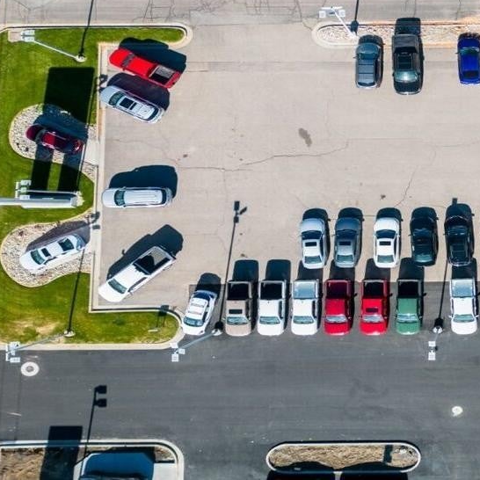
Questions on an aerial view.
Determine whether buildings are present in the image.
No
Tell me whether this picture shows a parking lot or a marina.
parking lot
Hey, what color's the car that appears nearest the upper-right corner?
blue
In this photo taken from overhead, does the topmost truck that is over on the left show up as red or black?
red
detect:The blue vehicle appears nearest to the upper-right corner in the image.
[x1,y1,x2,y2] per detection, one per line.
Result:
[456,38,480,86]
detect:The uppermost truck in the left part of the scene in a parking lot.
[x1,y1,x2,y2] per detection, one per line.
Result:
[106,50,184,88]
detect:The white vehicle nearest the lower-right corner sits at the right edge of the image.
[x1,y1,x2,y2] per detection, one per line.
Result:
[449,277,480,336]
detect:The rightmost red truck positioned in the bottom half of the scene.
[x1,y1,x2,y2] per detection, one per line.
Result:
[359,277,389,336]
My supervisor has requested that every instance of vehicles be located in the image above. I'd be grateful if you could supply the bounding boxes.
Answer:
[96,249,182,297]
[24,124,85,153]
[392,277,424,336]
[352,38,382,88]
[220,277,254,336]
[255,275,287,336]
[288,277,320,336]
[298,216,329,267]
[456,38,480,86]
[18,237,87,269]
[409,215,438,266]
[391,30,424,93]
[373,215,402,266]
[179,289,217,337]
[106,50,184,88]
[445,214,475,265]
[359,277,389,336]
[449,277,480,336]
[322,277,353,336]
[332,216,362,267]
[101,186,173,211]
[98,87,166,121]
